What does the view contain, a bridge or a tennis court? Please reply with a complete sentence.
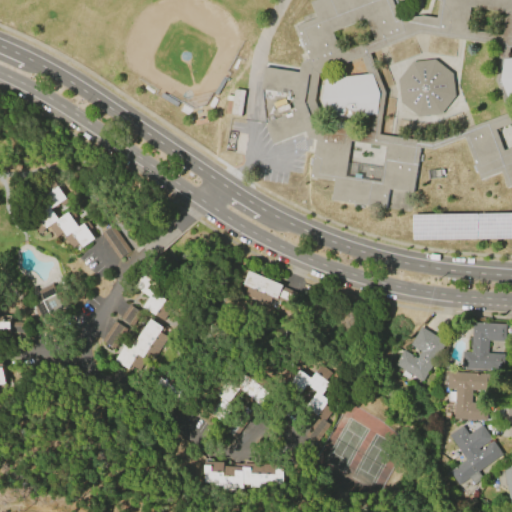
Visible in the photo is a tennis court.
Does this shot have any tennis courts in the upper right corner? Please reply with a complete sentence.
No, there is no tennis court in the upper right corner.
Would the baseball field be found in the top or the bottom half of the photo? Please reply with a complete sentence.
Seen from above, the baseball field lies in the top half of the view.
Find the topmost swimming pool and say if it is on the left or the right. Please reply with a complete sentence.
The topmost swimming pool sits on the left side.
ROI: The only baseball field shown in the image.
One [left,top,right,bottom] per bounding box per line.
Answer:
[125,0,240,107]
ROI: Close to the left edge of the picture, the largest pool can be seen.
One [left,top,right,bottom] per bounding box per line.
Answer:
[20,244,63,289]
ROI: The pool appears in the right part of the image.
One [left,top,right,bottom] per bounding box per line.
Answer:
[450,328,474,366]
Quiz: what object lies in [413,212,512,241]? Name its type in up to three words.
building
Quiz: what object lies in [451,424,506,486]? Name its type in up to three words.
house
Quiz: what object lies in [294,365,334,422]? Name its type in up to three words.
house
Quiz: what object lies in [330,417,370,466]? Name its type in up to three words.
tennis court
